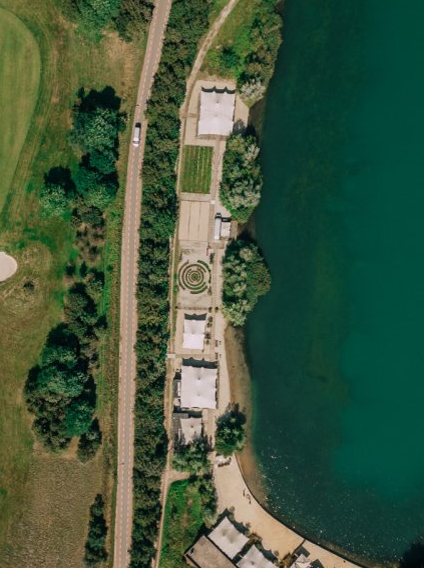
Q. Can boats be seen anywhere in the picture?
No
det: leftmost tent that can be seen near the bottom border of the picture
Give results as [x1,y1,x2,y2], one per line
[207,514,249,557]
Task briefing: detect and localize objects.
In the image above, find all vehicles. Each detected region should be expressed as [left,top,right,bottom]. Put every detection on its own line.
[213,215,222,241]
[133,126,142,148]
